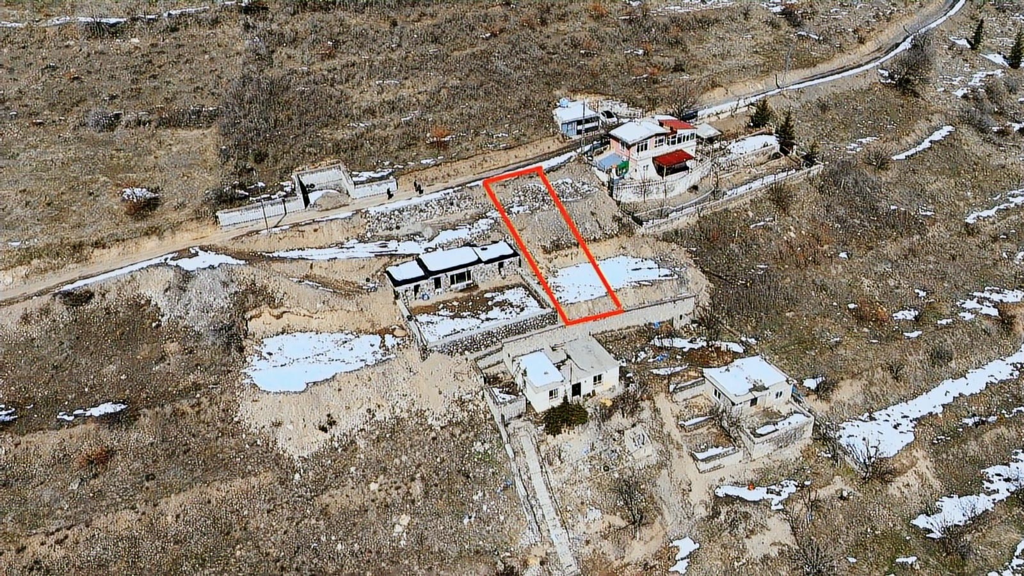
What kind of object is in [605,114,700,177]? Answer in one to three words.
house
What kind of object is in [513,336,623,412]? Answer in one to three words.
house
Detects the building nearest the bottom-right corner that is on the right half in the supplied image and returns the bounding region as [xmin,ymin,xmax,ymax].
[702,354,794,418]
